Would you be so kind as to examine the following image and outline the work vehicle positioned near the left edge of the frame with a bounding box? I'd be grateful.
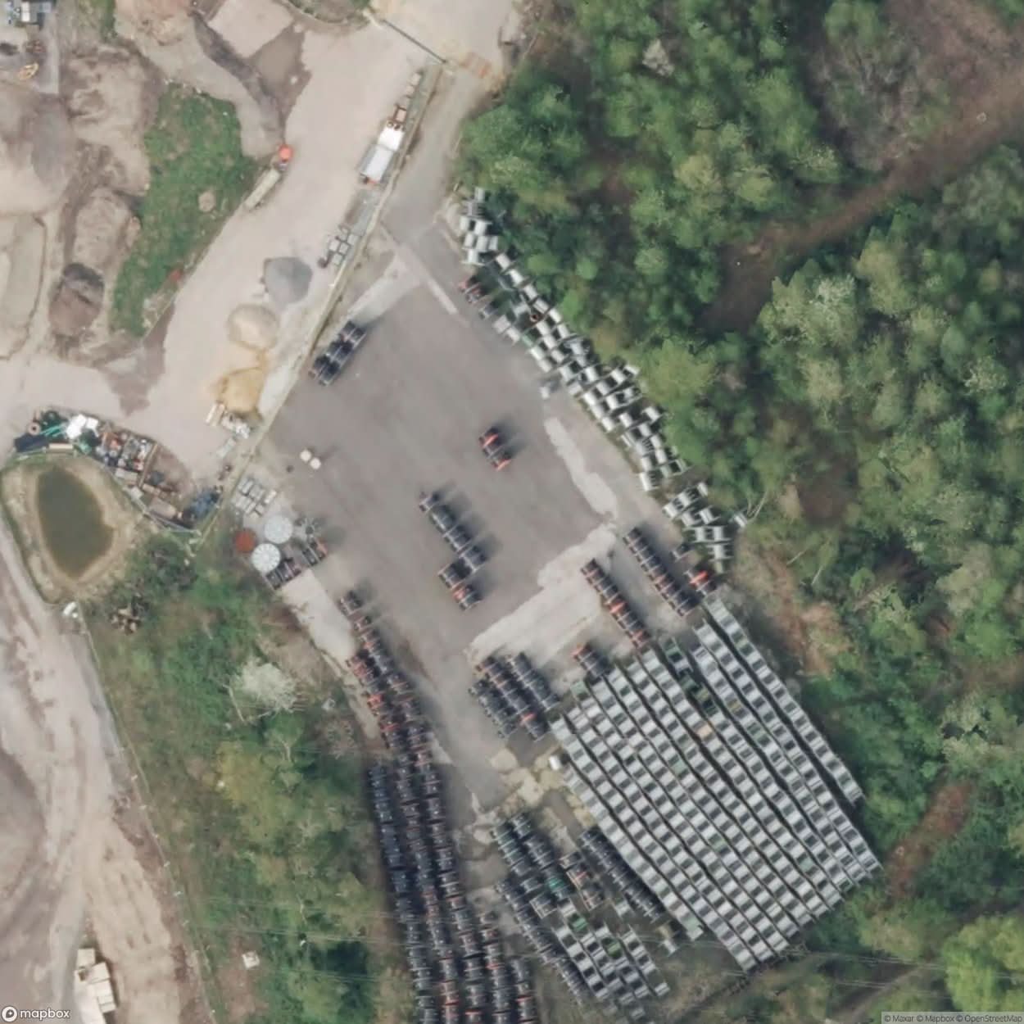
[18,63,38,80]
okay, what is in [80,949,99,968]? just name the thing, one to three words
building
